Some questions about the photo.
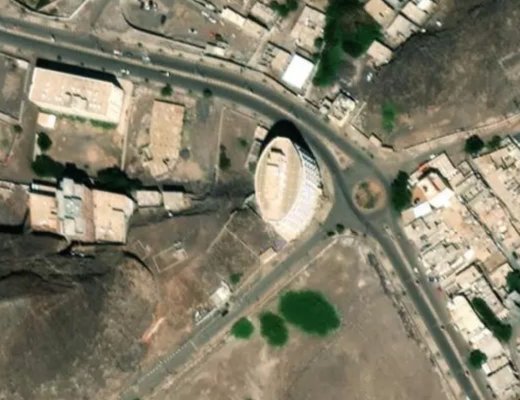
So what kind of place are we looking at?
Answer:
residential area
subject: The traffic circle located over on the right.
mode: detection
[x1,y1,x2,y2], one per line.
[354,179,387,212]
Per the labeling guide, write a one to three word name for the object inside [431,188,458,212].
house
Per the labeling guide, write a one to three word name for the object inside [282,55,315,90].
building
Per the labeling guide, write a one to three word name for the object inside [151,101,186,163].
building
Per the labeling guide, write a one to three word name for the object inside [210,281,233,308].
house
